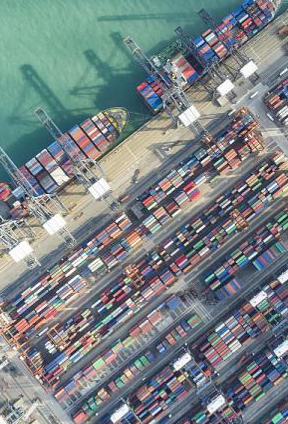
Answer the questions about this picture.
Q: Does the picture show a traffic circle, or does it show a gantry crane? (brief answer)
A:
gantry crane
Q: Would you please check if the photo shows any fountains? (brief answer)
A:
No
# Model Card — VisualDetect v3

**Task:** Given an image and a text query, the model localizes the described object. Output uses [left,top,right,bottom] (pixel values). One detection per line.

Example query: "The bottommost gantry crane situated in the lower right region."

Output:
[206,382,246,424]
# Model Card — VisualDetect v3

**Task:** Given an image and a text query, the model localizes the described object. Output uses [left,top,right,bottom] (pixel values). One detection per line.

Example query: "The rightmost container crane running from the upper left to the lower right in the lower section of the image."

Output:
[245,283,287,329]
